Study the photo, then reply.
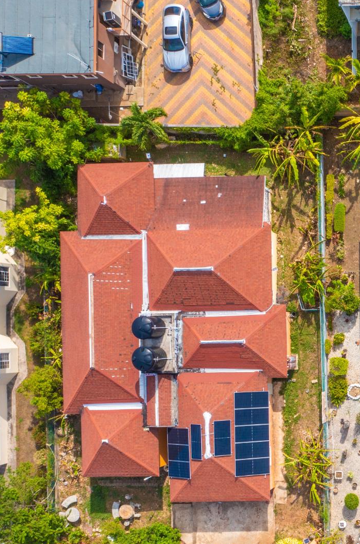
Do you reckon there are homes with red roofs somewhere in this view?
Yes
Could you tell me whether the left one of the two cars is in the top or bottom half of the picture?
top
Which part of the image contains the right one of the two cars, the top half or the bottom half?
top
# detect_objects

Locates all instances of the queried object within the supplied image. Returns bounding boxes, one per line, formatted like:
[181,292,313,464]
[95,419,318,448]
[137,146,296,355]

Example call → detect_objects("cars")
[157,0,196,74]
[198,0,234,23]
